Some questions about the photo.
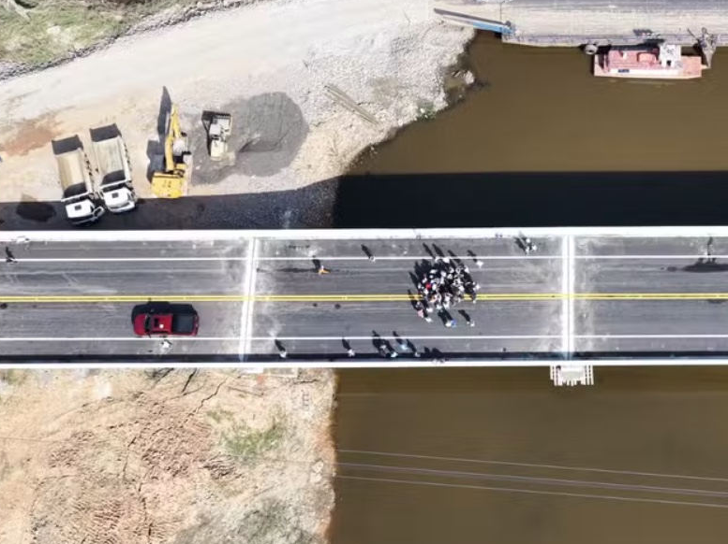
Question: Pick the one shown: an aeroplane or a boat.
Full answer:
The one in the frame is a boat.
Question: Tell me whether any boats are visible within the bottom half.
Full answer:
No, looking within the bottom half, there is no boat.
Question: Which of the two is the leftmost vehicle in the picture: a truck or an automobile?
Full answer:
I'd identify the leftmost vehicle as a truck.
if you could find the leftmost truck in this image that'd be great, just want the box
[52,136,110,230]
